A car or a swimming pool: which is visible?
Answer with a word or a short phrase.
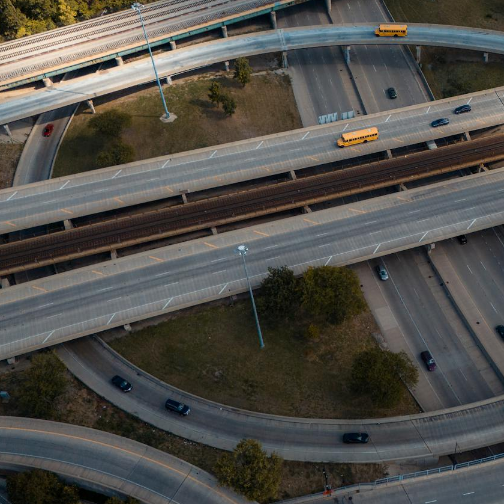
car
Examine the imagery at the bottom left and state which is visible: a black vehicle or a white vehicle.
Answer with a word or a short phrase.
black vehicle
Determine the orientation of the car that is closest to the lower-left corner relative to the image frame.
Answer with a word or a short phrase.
at an angle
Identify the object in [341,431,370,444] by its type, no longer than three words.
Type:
vehicle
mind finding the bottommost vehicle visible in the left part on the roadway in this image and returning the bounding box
[164,396,192,416]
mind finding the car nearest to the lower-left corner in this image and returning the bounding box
[108,371,132,392]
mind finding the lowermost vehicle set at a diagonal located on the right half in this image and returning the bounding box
[419,349,437,372]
